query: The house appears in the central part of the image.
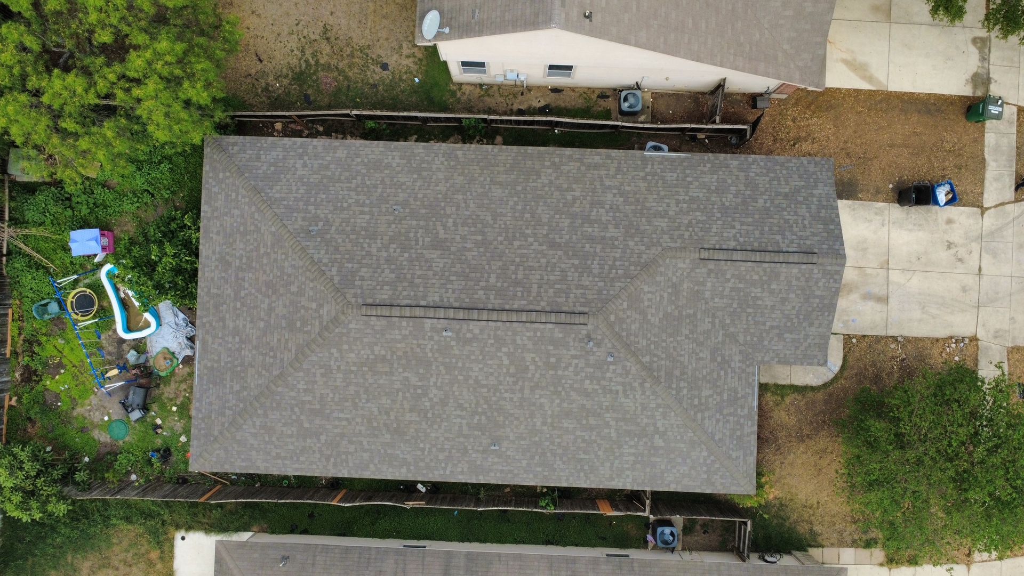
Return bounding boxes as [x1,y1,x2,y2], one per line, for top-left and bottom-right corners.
[191,135,851,494]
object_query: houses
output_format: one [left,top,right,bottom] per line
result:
[191,135,851,494]
[416,0,842,100]
[213,533,849,576]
